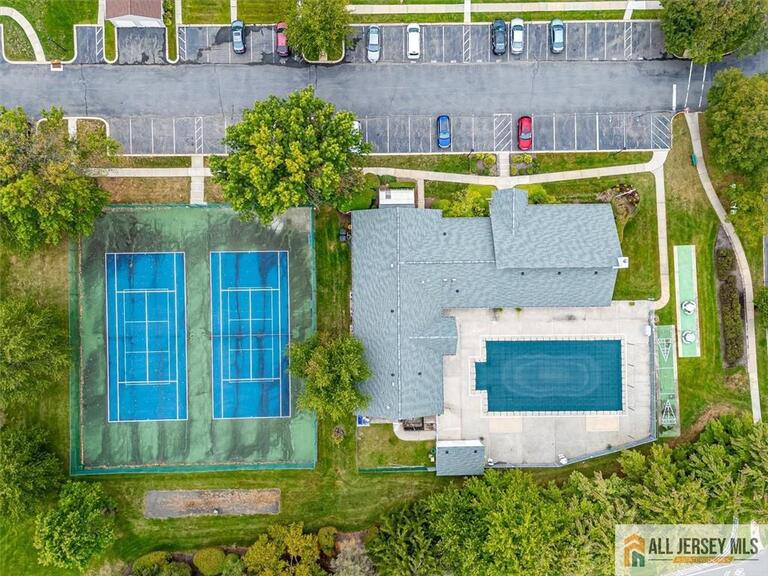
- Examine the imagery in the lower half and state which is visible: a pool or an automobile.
pool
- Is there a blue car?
Yes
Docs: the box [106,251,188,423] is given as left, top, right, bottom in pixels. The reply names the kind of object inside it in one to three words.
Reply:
tennis court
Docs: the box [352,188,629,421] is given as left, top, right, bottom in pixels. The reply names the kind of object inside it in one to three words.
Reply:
building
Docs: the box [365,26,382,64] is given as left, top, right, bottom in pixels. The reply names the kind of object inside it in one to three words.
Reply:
car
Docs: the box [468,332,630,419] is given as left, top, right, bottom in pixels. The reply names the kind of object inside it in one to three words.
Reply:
swimming pool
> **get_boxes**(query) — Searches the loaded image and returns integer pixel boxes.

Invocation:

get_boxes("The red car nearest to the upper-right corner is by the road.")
[516,116,533,152]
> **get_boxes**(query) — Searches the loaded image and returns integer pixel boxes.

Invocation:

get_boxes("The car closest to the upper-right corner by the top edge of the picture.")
[548,21,566,56]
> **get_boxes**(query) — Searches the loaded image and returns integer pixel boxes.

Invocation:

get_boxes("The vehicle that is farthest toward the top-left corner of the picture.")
[230,22,248,56]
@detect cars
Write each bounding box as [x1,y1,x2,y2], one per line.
[365,26,382,64]
[548,21,566,56]
[274,24,290,58]
[516,116,533,152]
[508,21,526,56]
[490,22,508,57]
[435,116,452,149]
[405,24,422,62]
[230,22,248,56]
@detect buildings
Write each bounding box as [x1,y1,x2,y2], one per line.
[436,440,484,475]
[352,188,629,421]
[105,0,166,28]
